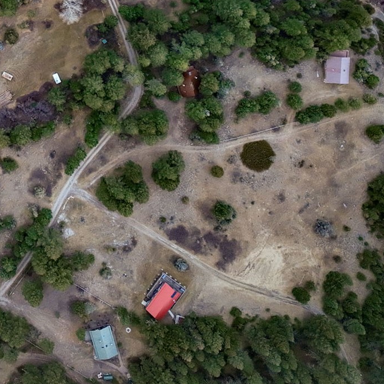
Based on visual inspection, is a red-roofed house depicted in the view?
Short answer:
Yes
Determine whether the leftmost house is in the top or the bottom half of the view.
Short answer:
bottom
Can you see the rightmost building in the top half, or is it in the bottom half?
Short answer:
top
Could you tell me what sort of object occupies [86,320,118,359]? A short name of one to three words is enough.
house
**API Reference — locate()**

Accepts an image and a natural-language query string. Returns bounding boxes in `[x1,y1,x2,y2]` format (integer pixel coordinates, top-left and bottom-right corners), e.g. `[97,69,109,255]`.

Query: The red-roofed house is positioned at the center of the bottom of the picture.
[142,270,186,317]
